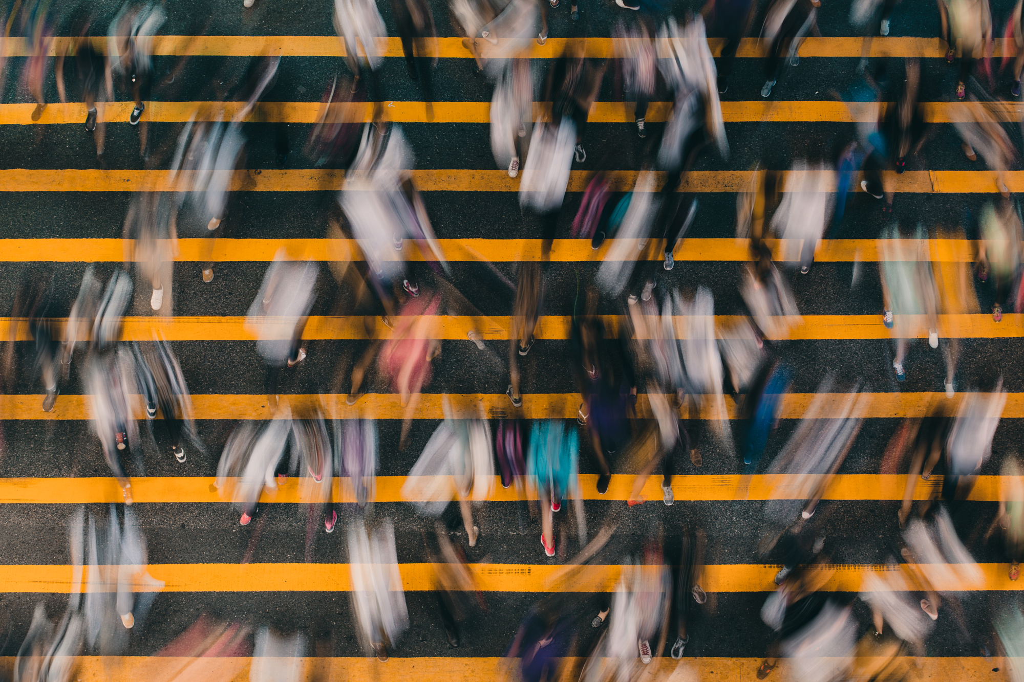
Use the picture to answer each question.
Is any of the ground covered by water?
No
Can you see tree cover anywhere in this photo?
No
